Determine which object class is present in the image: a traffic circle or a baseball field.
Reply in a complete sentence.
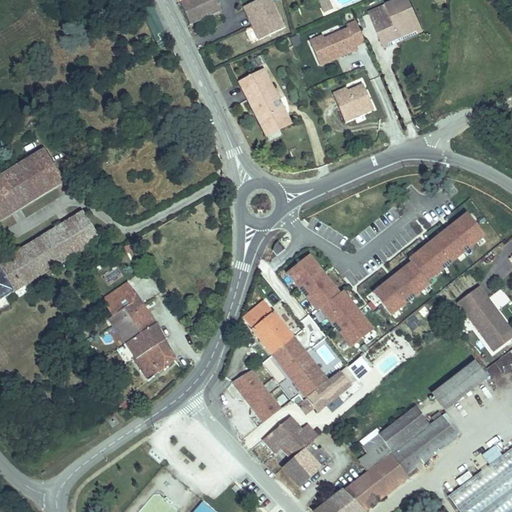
Looking from above, you can make out a traffic circle.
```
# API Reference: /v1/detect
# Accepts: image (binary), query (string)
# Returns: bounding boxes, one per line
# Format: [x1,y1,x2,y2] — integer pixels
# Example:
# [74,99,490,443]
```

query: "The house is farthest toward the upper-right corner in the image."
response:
[368,0,422,48]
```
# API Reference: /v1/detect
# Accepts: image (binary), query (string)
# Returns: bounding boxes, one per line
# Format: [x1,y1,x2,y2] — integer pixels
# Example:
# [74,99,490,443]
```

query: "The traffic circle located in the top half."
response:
[236,178,286,228]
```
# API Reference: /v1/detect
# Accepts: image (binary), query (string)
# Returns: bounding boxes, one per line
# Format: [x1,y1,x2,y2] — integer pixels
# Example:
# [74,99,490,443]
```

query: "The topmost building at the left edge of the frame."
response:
[0,148,62,220]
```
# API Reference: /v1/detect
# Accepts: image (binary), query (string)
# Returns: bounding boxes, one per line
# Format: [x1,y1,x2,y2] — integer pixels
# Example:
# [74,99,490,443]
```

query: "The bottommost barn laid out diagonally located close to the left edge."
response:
[0,210,97,291]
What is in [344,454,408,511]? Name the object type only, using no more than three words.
building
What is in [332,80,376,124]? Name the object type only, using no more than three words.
house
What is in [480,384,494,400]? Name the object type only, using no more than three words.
vehicle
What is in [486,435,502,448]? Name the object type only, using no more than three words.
vehicle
